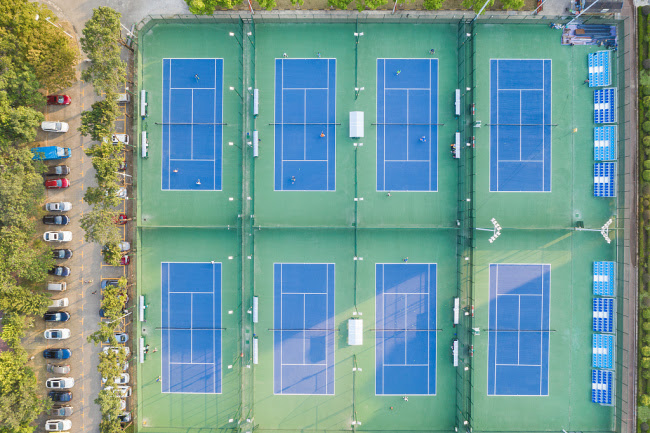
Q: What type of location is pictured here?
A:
sports ground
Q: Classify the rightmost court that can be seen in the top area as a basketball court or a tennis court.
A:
tennis court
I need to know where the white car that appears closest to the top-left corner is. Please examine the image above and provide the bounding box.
[41,119,71,133]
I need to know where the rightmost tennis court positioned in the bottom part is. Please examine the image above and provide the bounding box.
[474,228,616,427]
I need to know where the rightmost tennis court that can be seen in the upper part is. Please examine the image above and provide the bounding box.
[474,23,616,228]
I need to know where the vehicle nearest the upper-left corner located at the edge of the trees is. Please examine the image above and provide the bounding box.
[46,94,74,106]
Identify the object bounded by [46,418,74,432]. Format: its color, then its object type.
white car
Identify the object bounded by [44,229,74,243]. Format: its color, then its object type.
white vehicle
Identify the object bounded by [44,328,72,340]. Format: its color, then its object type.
white vehicle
